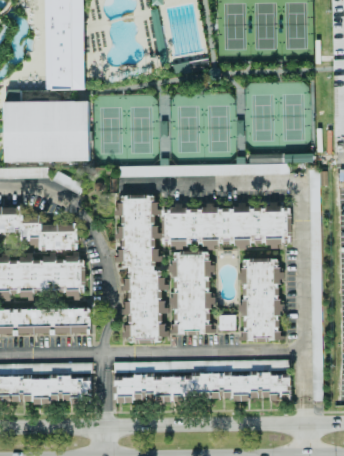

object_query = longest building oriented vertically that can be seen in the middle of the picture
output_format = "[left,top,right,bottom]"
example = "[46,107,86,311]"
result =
[116,193,170,344]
